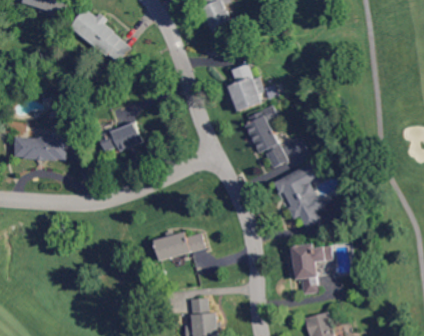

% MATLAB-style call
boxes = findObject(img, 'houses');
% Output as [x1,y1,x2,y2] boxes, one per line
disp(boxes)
[74,11,130,58]
[14,137,68,161]
[206,0,230,24]
[292,245,334,295]
[248,104,290,168]
[154,232,209,260]
[22,0,64,10]
[275,170,326,220]
[192,298,220,336]
[307,310,337,336]
[101,122,144,152]
[229,62,266,111]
